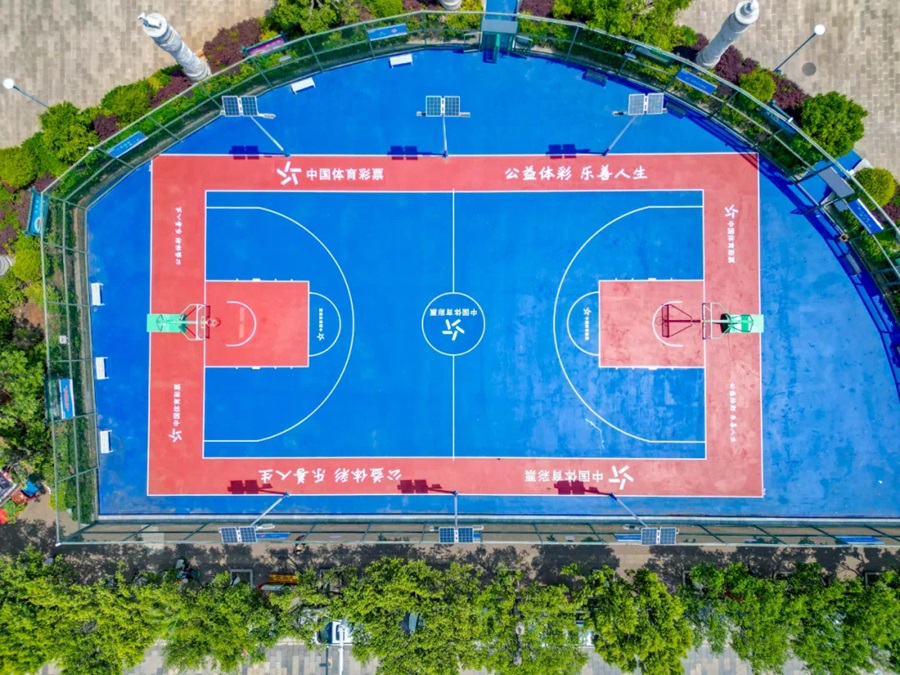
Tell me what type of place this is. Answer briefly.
sports ground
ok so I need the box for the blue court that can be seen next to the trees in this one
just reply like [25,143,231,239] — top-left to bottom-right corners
[87,47,900,515]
